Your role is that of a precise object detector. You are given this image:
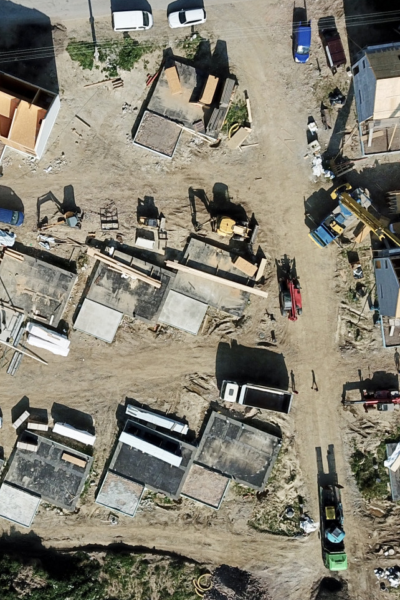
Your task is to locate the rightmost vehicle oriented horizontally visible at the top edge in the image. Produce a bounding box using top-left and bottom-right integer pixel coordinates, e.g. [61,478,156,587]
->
[166,8,207,29]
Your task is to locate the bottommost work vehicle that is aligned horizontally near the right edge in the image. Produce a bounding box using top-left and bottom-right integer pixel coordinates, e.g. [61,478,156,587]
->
[340,390,400,411]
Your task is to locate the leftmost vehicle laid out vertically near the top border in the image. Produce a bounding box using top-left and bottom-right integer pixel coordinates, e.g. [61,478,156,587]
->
[292,16,311,62]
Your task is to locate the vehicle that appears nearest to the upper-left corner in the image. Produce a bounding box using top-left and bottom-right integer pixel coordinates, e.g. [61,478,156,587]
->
[111,9,153,32]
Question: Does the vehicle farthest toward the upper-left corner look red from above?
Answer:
No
